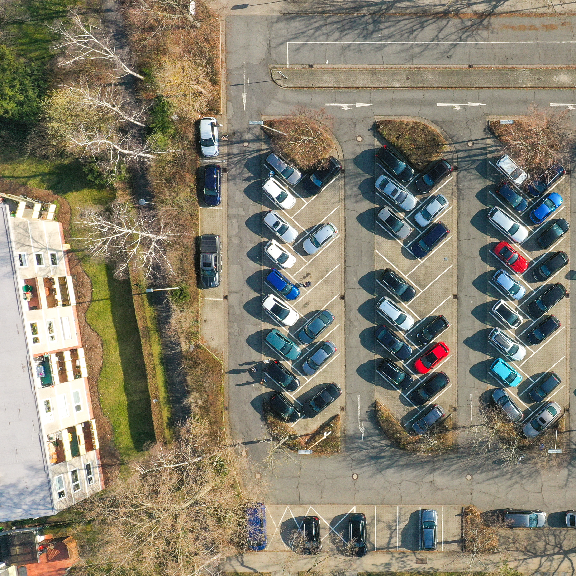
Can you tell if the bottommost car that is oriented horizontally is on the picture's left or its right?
right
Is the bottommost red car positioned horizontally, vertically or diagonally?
diagonally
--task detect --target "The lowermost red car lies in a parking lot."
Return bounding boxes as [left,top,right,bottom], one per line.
[415,340,451,374]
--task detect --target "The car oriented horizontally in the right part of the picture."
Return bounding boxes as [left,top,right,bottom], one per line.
[505,509,547,530]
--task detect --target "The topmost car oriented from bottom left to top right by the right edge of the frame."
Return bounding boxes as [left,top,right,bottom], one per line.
[528,161,566,197]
